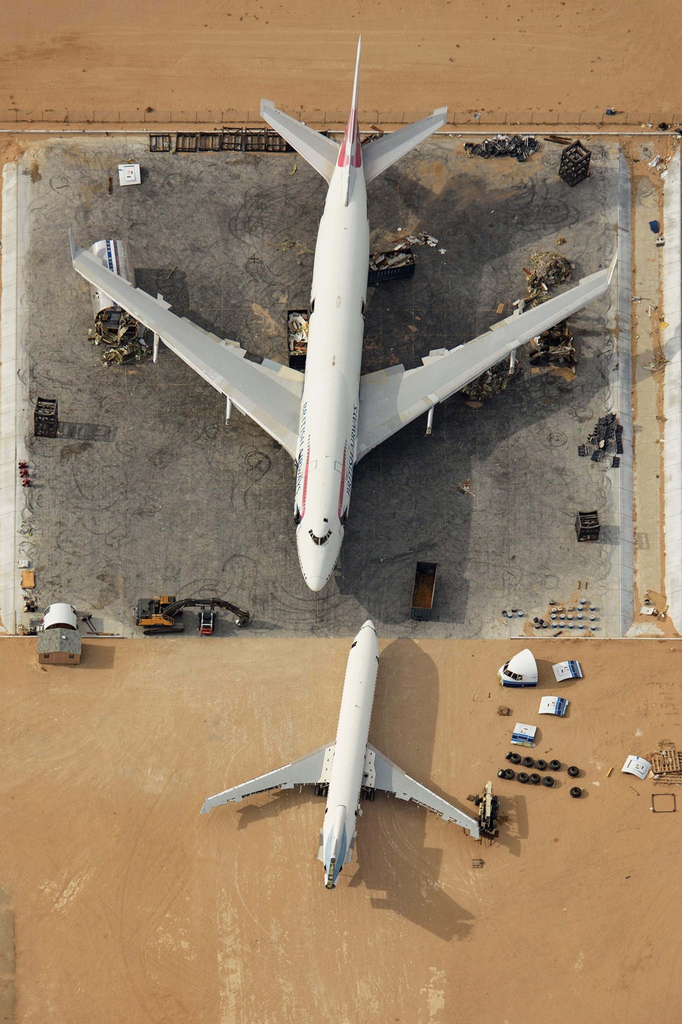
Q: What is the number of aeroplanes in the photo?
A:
2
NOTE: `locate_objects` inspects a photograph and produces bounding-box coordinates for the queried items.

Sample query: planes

[69,38,618,590]
[196,620,485,892]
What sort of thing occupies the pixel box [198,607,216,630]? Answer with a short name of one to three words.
work vehicle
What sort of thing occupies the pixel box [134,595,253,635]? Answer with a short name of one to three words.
work vehicle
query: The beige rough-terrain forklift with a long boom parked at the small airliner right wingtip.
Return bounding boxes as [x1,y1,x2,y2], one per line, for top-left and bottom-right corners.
[475,781,500,845]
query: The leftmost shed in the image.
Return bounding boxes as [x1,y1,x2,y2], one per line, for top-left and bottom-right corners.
[37,624,82,664]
